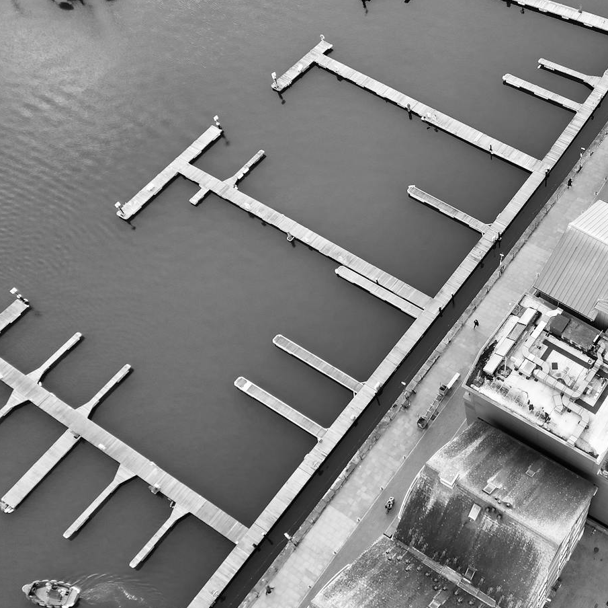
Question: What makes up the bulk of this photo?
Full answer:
For the most part, this view shows water.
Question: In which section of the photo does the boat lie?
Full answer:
The boat appears toward the bottom left of the photo.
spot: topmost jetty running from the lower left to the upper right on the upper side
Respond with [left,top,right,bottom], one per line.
[272,41,333,93]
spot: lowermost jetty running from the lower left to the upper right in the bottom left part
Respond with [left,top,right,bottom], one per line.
[131,505,191,568]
